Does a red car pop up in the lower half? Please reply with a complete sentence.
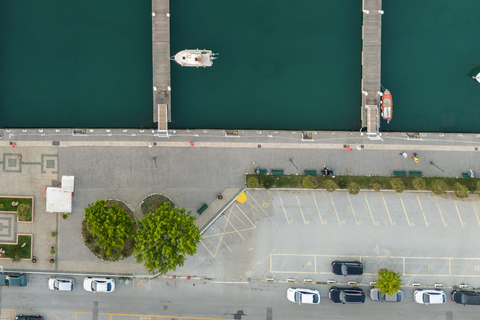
No, in the lower half there is no red car.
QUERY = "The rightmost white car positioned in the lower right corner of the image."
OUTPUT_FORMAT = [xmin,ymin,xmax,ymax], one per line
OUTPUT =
[413,289,445,305]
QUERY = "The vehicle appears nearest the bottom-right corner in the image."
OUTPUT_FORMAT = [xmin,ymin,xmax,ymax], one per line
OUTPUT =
[450,289,480,306]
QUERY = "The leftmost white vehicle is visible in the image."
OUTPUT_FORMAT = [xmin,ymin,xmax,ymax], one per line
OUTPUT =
[48,276,75,291]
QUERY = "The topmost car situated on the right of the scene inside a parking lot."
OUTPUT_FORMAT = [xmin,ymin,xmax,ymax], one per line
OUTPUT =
[331,261,363,276]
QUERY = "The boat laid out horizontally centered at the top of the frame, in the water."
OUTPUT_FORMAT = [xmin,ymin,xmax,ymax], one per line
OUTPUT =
[170,49,219,67]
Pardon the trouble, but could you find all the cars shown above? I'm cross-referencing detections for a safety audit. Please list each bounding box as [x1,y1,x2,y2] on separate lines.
[84,277,115,292]
[413,289,445,305]
[331,261,363,276]
[48,276,75,291]
[0,273,28,287]
[287,288,320,305]
[450,289,480,306]
[330,287,364,305]
[16,315,43,320]
[369,287,403,304]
